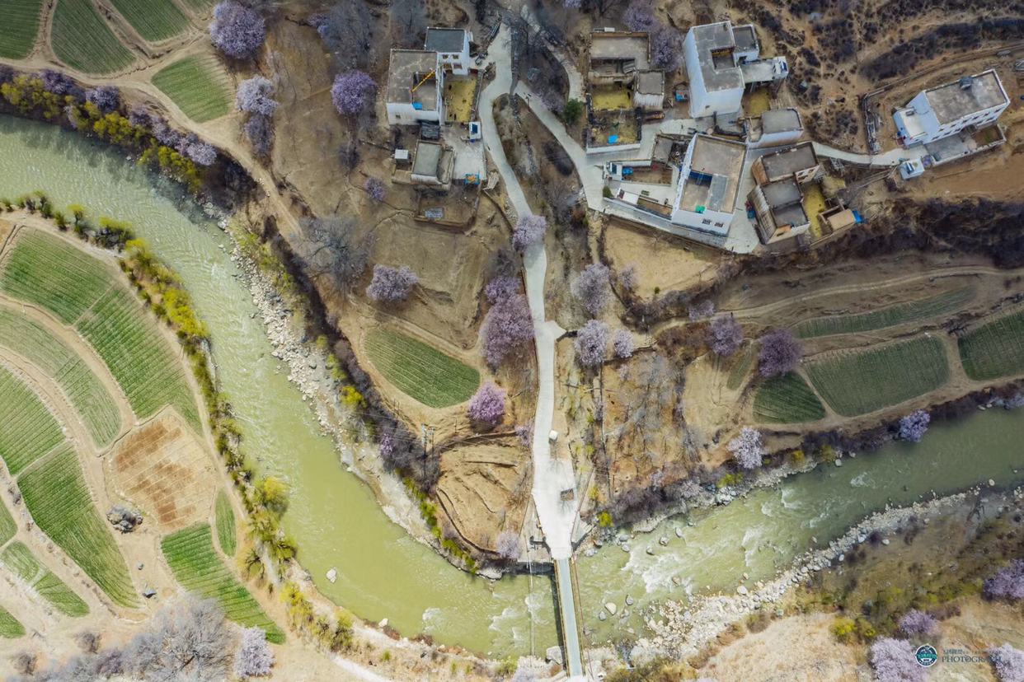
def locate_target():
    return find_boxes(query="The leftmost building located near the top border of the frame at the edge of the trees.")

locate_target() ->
[386,28,469,132]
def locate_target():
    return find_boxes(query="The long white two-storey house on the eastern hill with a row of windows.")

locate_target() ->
[889,69,1010,150]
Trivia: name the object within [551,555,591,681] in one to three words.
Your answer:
bridge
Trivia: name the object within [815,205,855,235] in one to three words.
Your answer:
shed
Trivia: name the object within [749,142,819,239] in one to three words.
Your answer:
house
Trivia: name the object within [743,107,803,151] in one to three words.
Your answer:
barn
